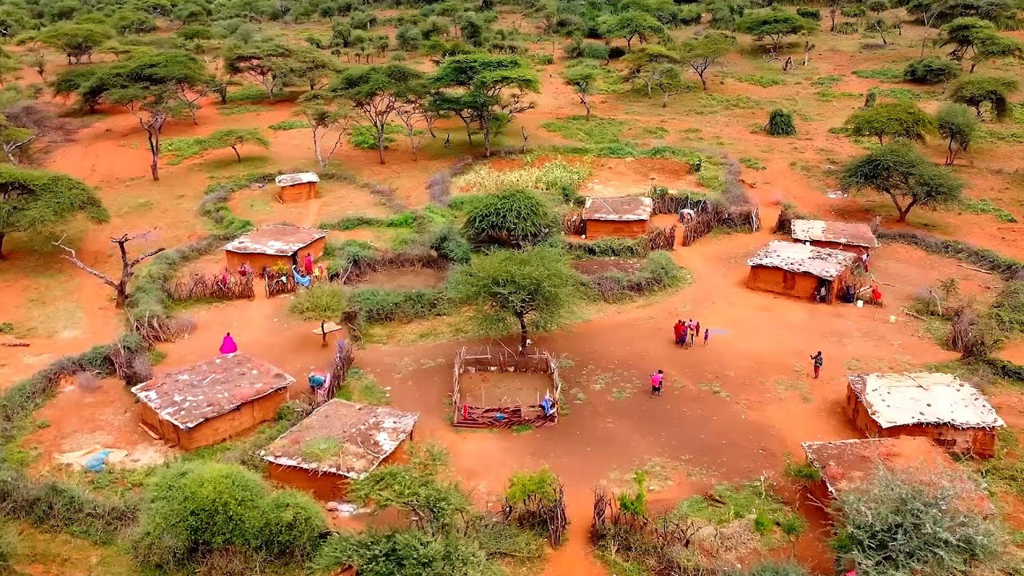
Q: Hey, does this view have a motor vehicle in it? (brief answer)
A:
No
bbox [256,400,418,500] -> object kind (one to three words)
shed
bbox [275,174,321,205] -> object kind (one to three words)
shed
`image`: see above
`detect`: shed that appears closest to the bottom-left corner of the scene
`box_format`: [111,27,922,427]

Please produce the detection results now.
[132,357,297,453]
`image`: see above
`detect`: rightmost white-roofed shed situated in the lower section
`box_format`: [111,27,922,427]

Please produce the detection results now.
[846,373,1014,456]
